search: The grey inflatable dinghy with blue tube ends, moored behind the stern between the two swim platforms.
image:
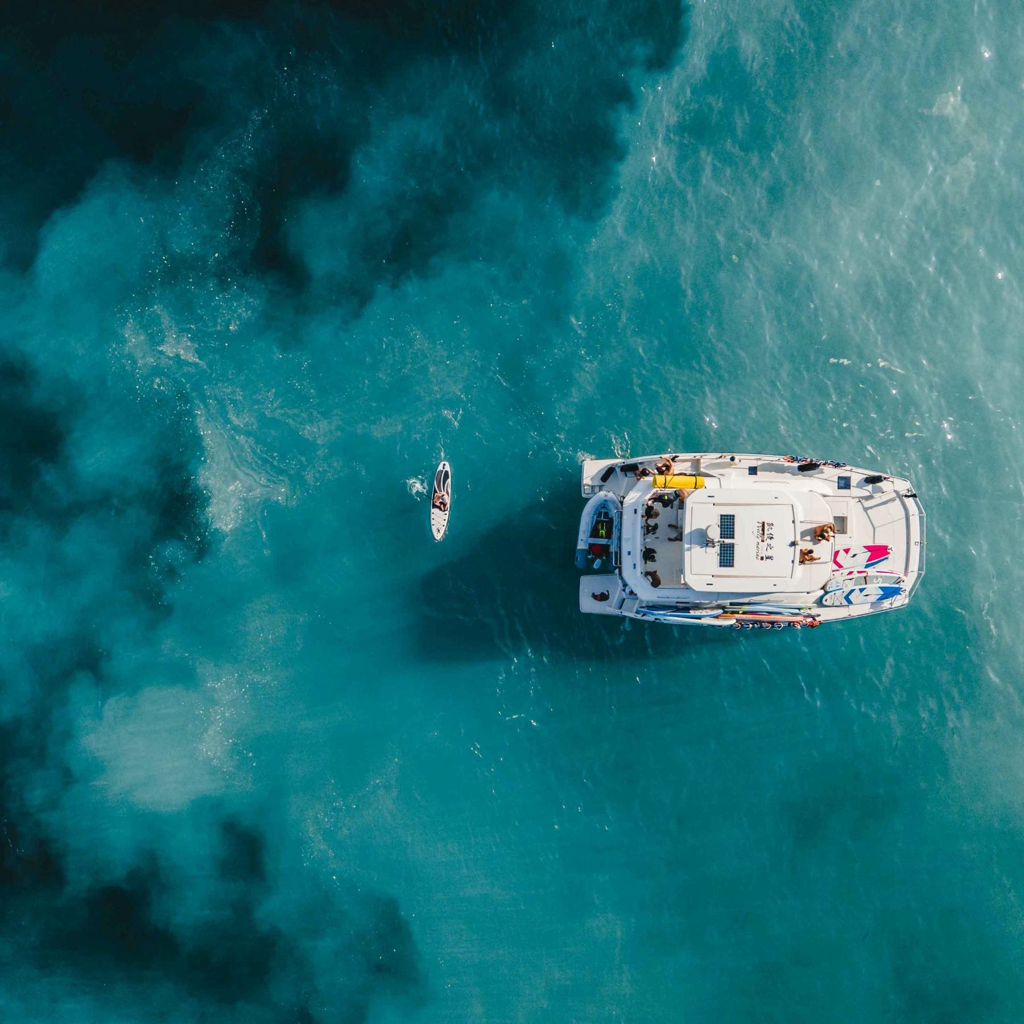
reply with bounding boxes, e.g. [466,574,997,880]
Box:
[575,493,623,569]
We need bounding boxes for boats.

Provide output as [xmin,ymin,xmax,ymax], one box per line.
[575,493,623,569]
[580,453,927,623]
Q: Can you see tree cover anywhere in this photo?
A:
No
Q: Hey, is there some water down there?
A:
Yes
